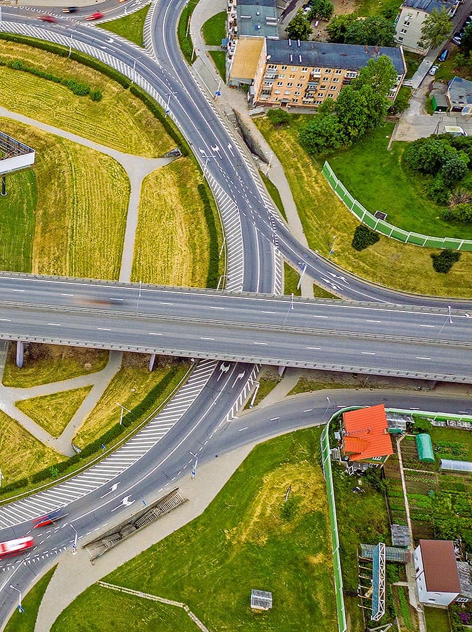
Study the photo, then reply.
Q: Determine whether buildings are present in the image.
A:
Yes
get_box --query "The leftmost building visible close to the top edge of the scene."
[224,0,279,82]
